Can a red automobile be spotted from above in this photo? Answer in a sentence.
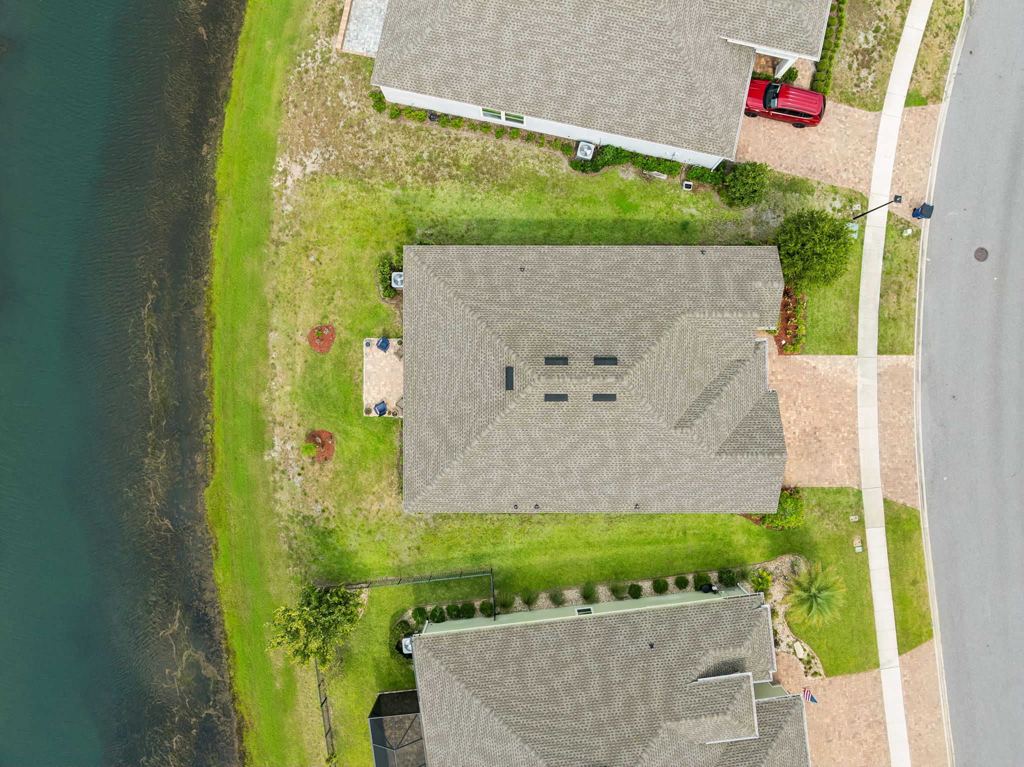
Yes, there is a red automobile in the image.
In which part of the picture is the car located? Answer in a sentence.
The car sits in the top right section of the image.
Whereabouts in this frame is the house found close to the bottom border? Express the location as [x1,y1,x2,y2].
[413,584,814,767]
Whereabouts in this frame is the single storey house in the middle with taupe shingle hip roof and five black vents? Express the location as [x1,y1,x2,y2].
[402,244,788,514]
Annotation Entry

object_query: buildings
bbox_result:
[371,0,835,170]
[413,584,814,767]
[402,244,788,514]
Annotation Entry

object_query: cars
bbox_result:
[746,77,827,129]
